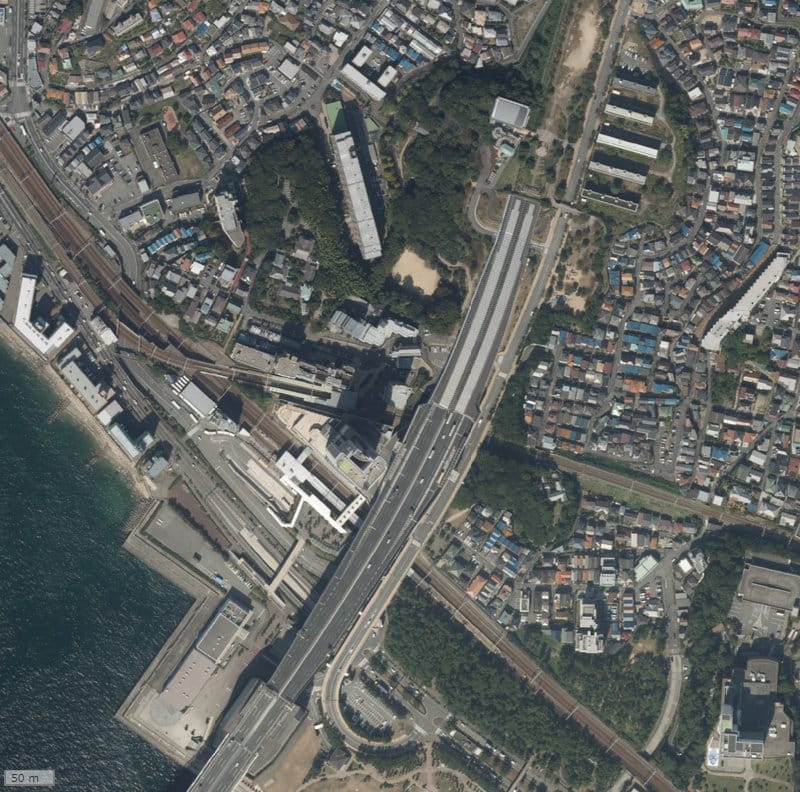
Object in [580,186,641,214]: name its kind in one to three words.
building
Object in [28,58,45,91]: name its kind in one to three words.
building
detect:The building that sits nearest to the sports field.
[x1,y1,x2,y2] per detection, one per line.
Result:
[332,130,384,262]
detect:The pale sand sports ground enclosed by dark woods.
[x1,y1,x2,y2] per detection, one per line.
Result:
[392,247,438,294]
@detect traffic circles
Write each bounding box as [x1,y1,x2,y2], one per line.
[398,690,454,742]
